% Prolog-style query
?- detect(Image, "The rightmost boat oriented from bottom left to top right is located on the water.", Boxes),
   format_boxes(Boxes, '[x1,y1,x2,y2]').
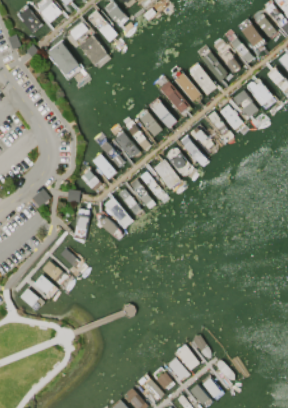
[269,100,286,115]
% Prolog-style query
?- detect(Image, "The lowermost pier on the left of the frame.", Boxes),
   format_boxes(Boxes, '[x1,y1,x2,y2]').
[71,303,136,334]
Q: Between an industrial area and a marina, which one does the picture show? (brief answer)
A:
marina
